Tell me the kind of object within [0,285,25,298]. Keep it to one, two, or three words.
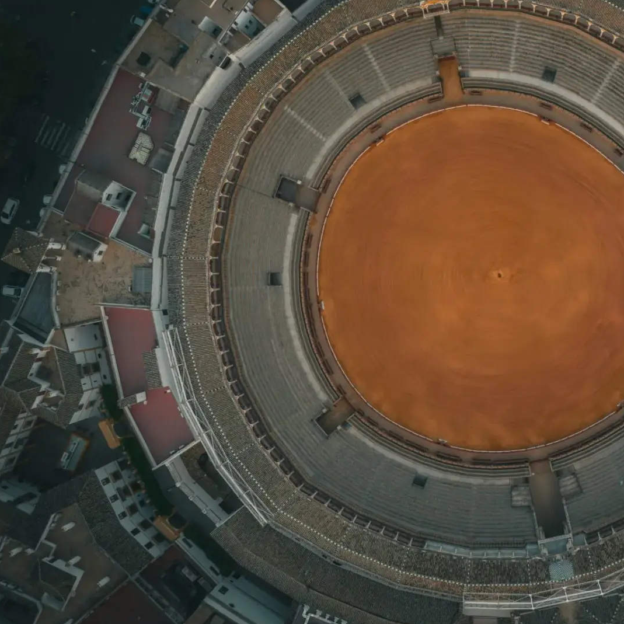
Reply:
vehicle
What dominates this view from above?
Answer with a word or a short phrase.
buildings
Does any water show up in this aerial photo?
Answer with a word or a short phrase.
No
